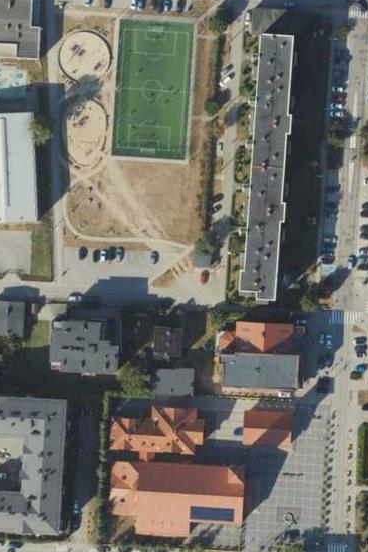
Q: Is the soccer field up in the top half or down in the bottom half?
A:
top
